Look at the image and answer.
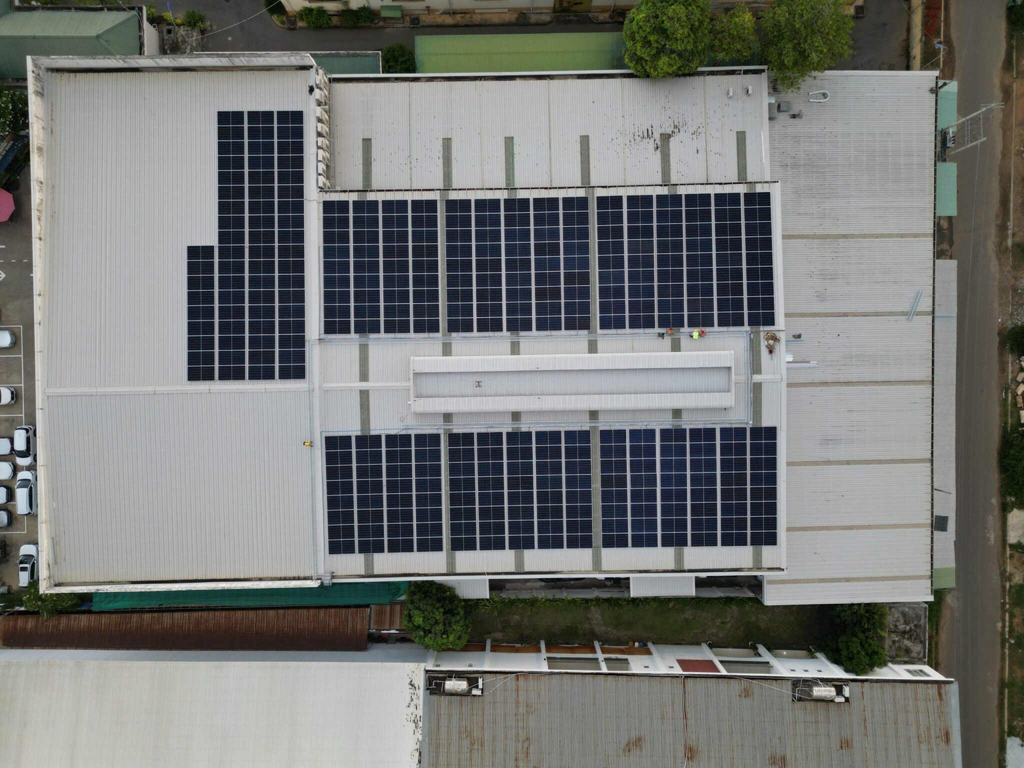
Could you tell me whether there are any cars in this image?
Yes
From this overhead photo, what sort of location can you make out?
industrial area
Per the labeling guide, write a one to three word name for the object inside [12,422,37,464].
car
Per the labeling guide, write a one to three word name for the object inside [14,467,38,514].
car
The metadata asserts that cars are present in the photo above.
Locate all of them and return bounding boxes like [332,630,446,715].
[0,461,17,480]
[0,330,18,349]
[12,422,37,464]
[14,467,38,514]
[0,508,13,528]
[0,384,19,407]
[0,436,15,456]
[15,542,40,589]
[0,485,12,504]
